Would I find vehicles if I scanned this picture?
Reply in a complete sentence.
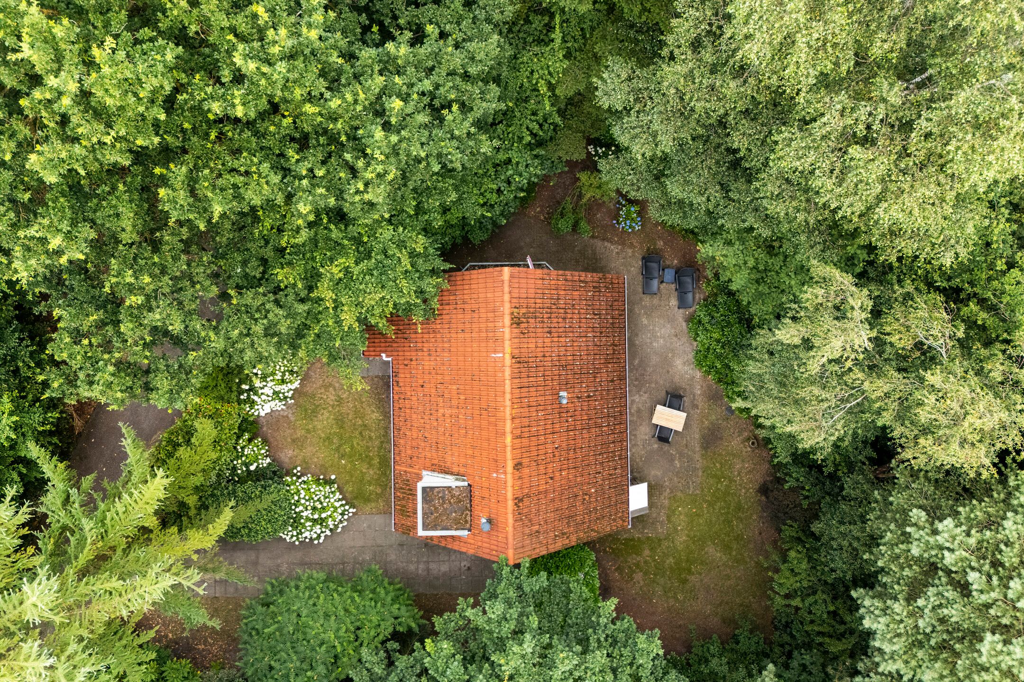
No, there's no vehicle here.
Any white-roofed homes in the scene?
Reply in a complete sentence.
No, there appears to be no white-roofed home in this shot.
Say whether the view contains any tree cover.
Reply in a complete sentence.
Yes, some tree cover is visible.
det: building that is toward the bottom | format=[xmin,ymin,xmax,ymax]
[358,262,648,566]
